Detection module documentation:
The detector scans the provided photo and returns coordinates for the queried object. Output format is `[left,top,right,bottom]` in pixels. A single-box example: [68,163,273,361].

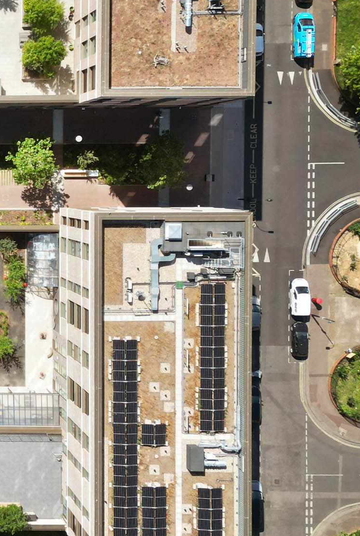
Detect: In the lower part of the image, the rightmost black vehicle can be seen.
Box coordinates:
[289,321,311,360]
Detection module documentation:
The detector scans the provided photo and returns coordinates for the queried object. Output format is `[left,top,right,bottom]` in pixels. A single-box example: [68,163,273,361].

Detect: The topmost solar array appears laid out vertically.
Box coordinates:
[194,282,229,433]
